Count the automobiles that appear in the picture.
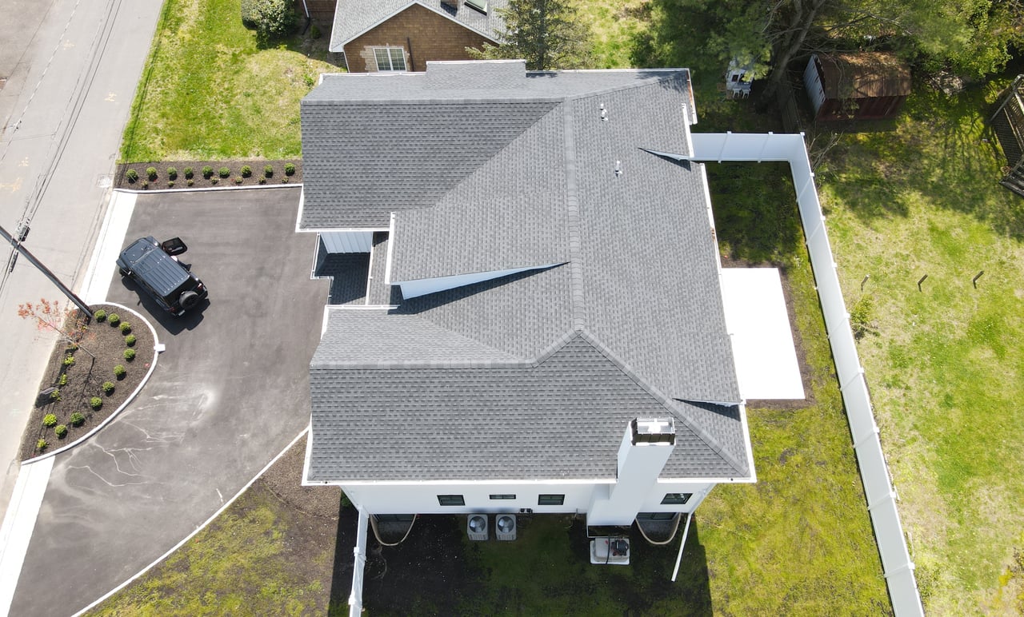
1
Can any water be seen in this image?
No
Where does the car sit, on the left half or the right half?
left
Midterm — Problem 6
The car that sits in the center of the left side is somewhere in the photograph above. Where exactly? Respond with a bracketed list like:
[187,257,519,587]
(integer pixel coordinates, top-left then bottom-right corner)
[120,237,210,319]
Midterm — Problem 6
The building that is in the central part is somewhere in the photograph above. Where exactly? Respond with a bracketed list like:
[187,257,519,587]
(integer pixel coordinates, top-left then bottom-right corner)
[293,55,759,538]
